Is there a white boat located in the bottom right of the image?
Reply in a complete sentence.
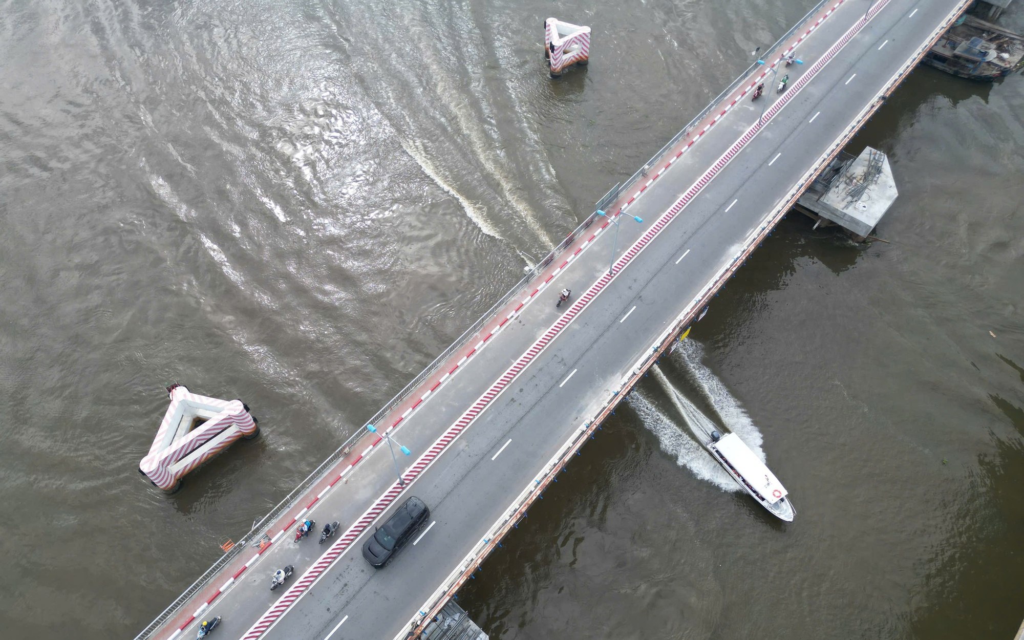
Yes, the scene does show a white boat in the bottom right of the image.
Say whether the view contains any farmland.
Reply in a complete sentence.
No, the picture contains no farmland.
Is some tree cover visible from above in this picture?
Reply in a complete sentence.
No, there's no tree cover in this view.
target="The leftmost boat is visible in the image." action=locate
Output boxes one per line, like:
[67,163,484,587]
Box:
[707,430,799,524]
